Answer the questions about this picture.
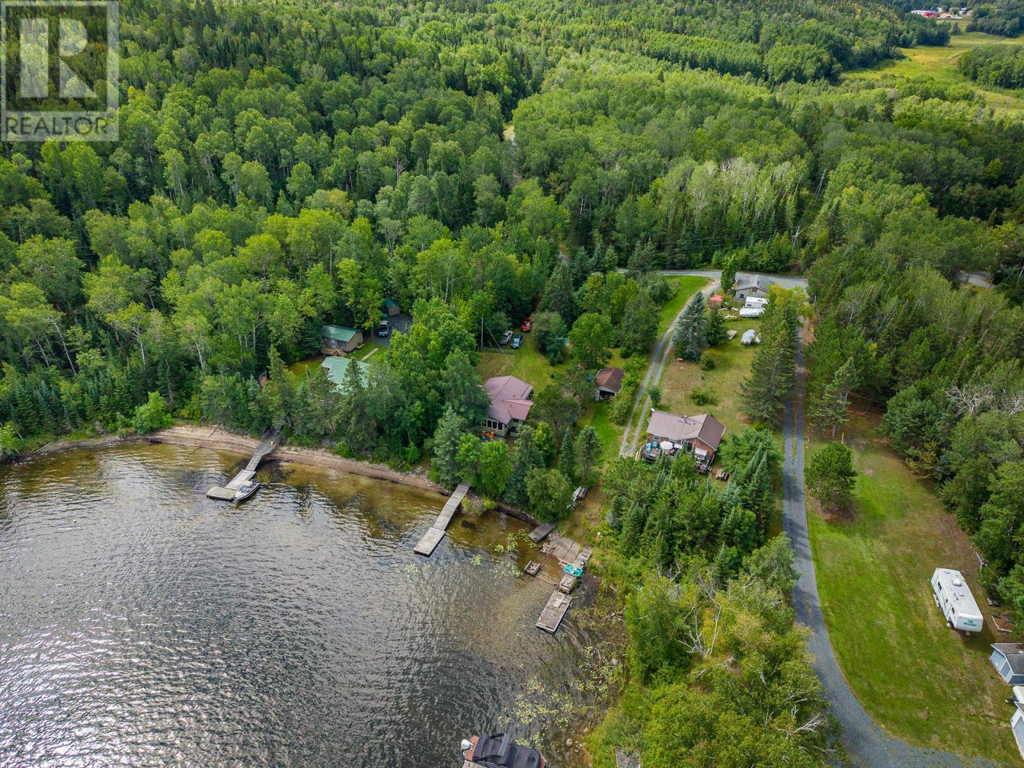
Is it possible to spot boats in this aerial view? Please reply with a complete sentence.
Yes, this view includes a boat.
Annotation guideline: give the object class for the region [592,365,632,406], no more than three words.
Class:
building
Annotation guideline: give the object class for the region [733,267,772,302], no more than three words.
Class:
building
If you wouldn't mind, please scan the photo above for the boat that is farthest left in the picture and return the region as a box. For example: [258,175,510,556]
[234,476,268,503]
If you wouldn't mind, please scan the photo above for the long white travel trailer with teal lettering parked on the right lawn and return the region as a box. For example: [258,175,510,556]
[929,567,981,635]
